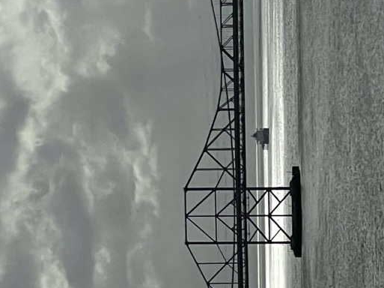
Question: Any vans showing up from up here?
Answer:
No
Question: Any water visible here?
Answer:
Yes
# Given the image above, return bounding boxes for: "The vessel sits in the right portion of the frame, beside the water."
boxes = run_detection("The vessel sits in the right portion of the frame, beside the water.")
[251,130,269,148]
